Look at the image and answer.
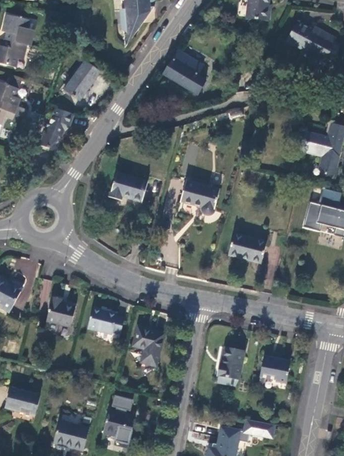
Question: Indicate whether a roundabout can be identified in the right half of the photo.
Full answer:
No, no roundabout is visible in the right half of the photo.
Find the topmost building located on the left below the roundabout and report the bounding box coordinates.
[0,279,24,312]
